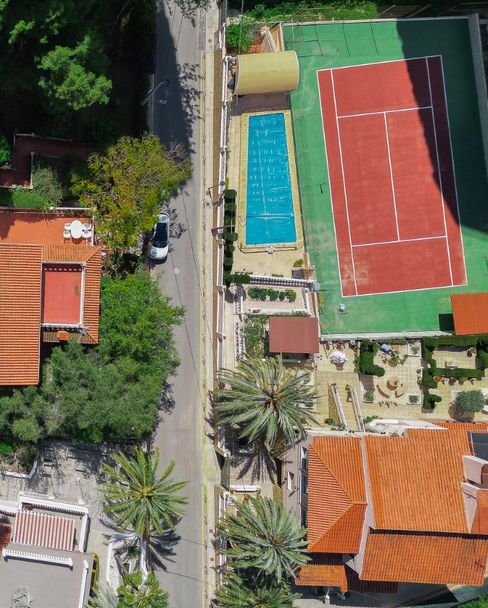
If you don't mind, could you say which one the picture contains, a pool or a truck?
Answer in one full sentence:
The one in the frame is a pool.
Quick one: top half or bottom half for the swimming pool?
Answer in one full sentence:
Seen from above, the swimming pool lies in the top half of the view.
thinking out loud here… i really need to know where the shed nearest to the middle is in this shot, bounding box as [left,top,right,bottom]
[262,317,320,352]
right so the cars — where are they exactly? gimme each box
[88,554,105,598]
[149,213,175,261]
